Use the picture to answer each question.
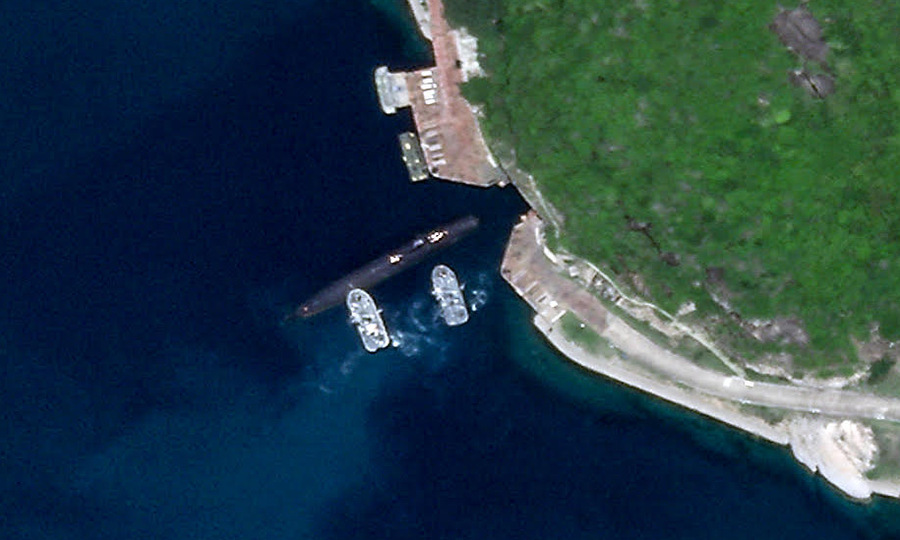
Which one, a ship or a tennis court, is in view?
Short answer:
ship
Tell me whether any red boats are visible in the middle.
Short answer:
No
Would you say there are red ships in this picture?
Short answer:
No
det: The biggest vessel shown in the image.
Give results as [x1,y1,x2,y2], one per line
[294,217,478,319]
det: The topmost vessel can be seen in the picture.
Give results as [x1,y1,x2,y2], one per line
[399,131,427,181]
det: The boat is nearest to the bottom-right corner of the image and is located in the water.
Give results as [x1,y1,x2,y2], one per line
[432,265,468,328]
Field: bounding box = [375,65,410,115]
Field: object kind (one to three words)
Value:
pier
